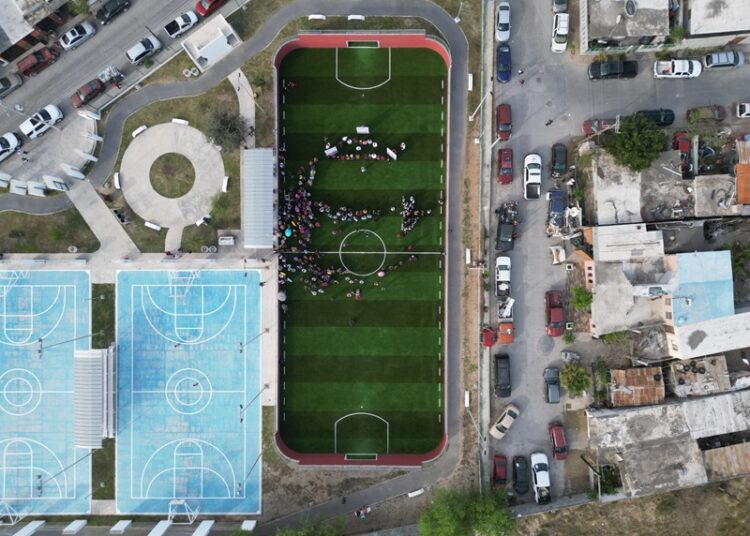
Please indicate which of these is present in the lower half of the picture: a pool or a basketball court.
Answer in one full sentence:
There is a basketball court in the lower half of the picture.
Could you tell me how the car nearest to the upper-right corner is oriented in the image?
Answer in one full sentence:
The car nearest to the upper-right corner is laid out from left to right.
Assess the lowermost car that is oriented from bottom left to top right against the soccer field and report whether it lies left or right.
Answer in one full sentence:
Relative to the soccer field, the lowermost car that is oriented from bottom left to top right is on the right.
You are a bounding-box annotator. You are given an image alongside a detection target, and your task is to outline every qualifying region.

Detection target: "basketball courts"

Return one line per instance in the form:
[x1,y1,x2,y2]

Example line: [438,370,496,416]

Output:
[116,269,261,515]
[0,269,91,515]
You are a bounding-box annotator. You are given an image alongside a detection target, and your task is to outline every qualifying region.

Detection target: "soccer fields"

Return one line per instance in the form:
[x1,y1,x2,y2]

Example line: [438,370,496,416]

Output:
[279,42,444,459]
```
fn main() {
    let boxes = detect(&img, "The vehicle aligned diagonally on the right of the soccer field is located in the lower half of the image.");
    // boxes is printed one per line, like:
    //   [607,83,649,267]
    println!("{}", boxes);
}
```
[488,401,521,440]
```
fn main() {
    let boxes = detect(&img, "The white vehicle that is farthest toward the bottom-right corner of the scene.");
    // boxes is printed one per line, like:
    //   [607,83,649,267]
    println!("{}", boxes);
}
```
[530,452,552,505]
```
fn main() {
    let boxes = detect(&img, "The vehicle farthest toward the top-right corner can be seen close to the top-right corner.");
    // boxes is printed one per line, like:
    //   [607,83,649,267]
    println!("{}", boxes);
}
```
[701,48,745,70]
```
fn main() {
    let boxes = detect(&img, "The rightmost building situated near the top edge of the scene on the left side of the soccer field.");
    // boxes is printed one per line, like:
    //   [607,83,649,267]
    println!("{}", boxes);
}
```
[182,15,245,76]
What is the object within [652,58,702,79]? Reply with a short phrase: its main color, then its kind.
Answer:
white truck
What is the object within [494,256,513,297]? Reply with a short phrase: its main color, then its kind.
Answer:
white vehicle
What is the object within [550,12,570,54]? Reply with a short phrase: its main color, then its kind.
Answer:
white car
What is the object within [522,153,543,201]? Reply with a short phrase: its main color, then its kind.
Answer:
white truck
